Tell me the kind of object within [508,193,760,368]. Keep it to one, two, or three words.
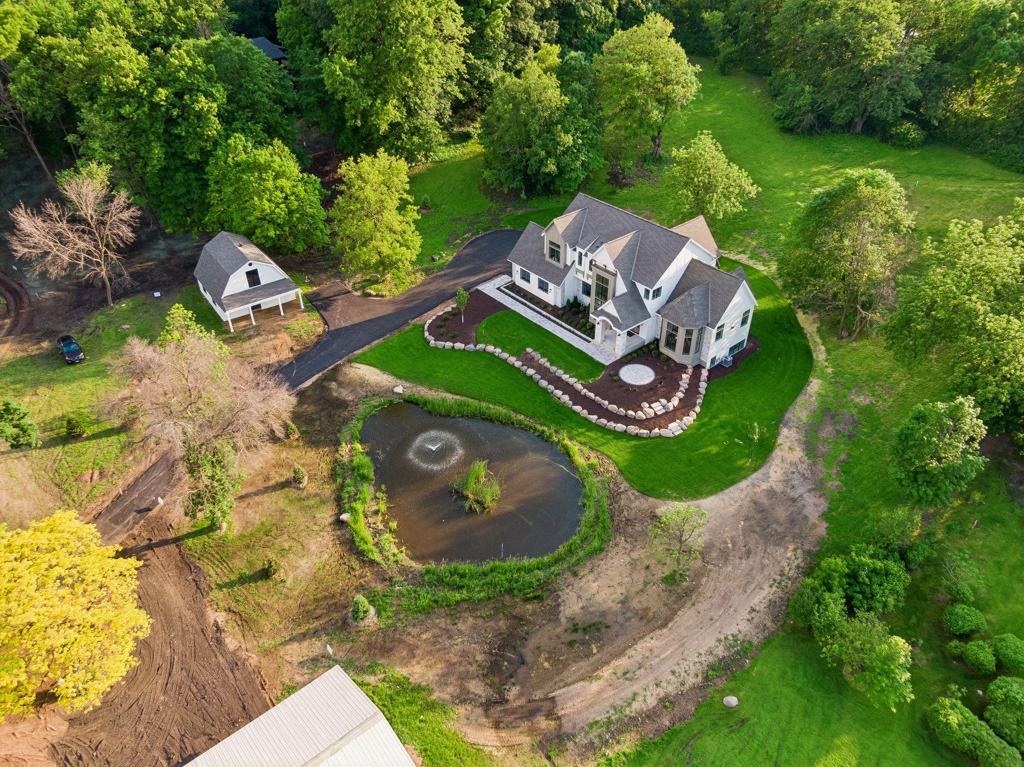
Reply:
house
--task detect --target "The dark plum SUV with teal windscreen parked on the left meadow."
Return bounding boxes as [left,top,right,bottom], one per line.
[55,329,86,361]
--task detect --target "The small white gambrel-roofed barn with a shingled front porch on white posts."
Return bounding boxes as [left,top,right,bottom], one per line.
[192,230,305,332]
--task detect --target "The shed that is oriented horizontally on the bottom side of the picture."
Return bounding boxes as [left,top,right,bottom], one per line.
[185,664,417,767]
